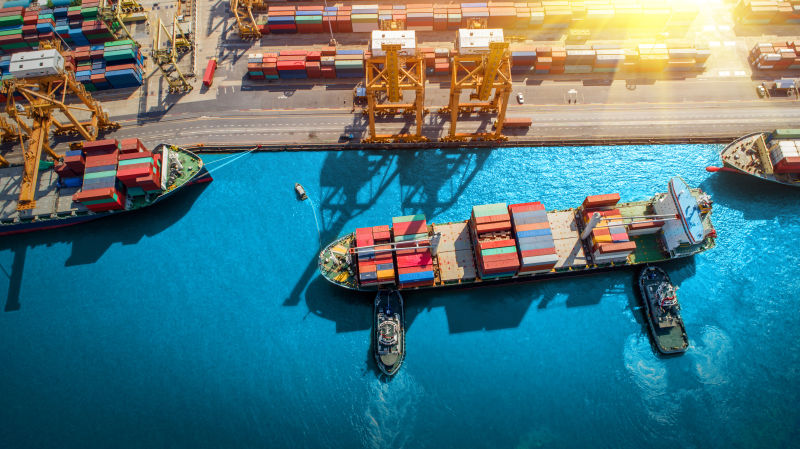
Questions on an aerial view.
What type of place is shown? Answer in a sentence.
What you see here is a port.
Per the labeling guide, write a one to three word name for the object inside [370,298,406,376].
boat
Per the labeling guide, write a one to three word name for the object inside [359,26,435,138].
container crane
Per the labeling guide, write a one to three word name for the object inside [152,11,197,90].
container crane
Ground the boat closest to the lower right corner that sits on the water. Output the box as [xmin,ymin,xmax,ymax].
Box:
[641,264,696,352]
